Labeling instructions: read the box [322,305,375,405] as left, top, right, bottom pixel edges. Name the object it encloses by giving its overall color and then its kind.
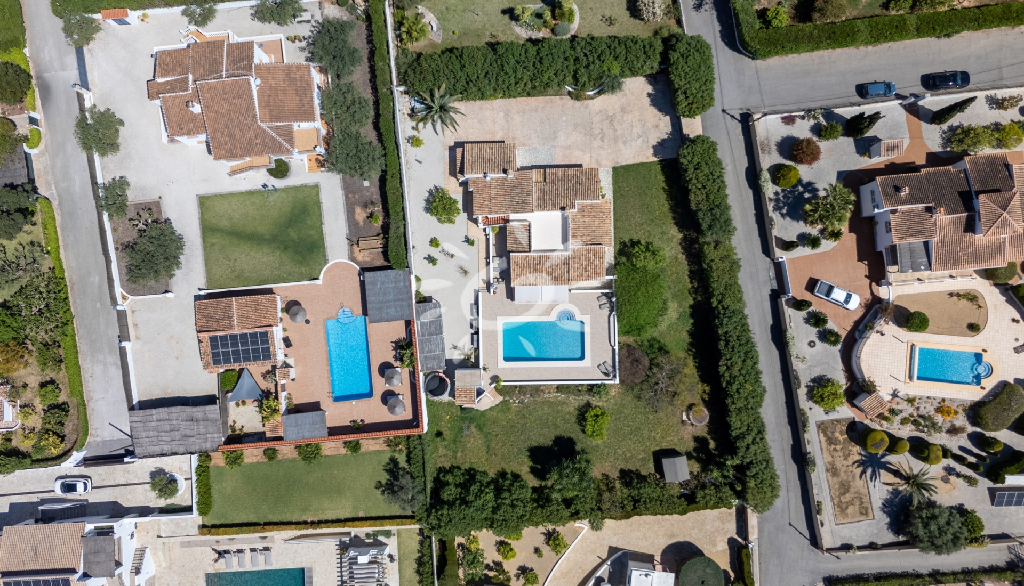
blue swimming pool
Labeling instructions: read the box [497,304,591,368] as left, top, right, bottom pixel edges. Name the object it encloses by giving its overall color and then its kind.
blue swimming pool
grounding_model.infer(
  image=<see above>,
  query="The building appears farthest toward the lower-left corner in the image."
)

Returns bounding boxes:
[0,512,160,586]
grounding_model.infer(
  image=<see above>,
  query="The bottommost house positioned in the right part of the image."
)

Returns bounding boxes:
[579,546,674,586]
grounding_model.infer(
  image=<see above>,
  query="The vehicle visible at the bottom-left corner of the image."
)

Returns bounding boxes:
[56,476,93,495]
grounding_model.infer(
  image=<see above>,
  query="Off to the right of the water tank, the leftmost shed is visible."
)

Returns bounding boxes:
[455,367,482,405]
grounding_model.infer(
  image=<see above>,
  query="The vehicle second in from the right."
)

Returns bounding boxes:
[859,79,893,99]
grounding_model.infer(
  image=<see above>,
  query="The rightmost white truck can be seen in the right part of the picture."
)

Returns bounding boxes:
[811,280,858,308]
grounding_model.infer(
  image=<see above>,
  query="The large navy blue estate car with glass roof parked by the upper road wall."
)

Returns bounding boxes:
[925,69,967,90]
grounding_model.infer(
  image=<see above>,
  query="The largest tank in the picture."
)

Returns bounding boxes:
[425,371,451,397]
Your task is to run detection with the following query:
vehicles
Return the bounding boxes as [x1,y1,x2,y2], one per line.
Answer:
[56,476,93,495]
[811,280,858,308]
[859,79,893,99]
[925,69,967,90]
